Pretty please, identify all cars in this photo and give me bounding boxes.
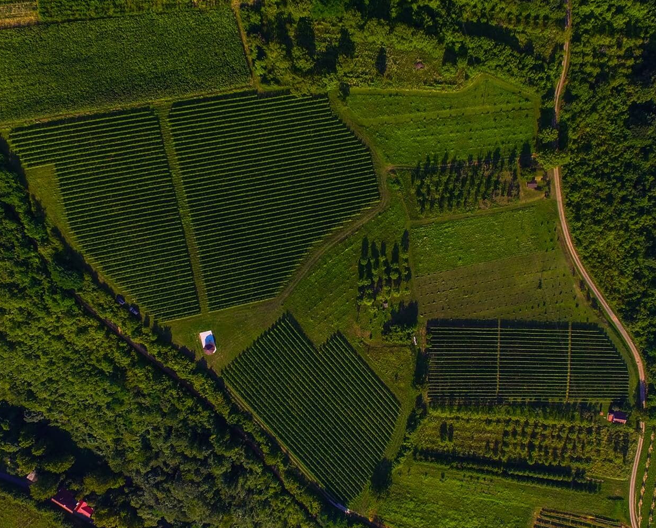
[117,297,126,305]
[129,306,138,314]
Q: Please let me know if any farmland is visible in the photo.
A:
Yes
